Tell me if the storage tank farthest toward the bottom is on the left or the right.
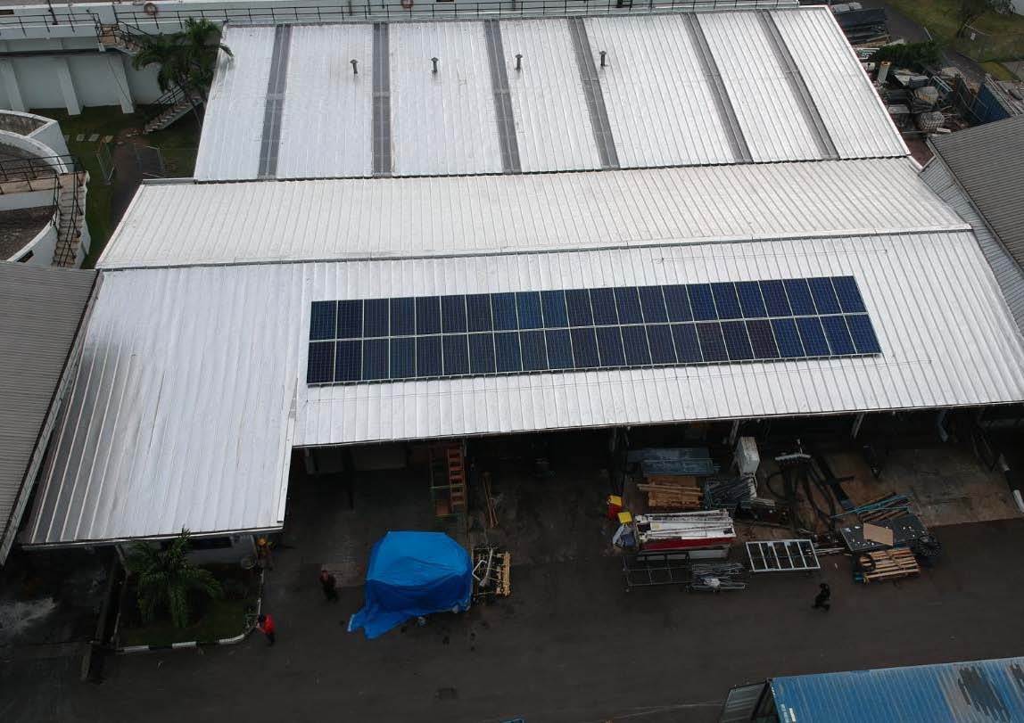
left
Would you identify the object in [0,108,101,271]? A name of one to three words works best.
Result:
storage tank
